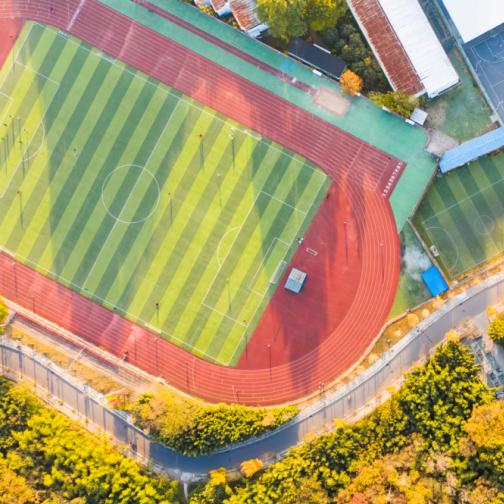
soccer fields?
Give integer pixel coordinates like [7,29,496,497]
[411,145,504,288]
[0,20,332,368]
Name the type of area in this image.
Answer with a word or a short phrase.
sports ground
